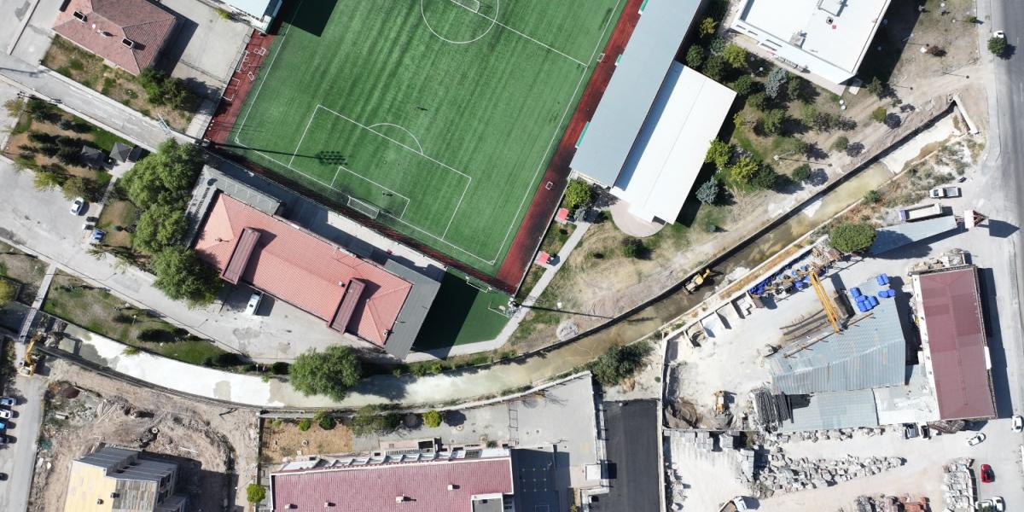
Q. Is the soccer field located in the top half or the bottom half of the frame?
top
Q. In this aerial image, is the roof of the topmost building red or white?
white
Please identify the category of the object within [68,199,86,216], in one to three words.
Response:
car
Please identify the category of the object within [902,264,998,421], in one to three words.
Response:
building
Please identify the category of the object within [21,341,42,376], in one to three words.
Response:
work vehicle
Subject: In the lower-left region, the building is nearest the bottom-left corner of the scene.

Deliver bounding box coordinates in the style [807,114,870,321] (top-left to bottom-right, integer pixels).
[63,450,189,512]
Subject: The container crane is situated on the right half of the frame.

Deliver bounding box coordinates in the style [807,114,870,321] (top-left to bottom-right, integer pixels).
[804,267,840,334]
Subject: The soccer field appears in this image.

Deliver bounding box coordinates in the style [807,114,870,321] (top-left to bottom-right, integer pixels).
[205,0,649,295]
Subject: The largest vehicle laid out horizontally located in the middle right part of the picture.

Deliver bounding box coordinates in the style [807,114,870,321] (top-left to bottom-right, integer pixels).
[898,205,943,224]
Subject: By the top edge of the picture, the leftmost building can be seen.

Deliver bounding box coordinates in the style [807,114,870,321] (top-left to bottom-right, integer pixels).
[52,0,177,77]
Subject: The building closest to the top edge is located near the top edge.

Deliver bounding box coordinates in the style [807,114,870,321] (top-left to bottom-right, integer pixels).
[226,0,299,35]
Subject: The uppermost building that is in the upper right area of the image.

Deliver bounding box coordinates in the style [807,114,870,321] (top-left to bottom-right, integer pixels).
[729,0,891,82]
